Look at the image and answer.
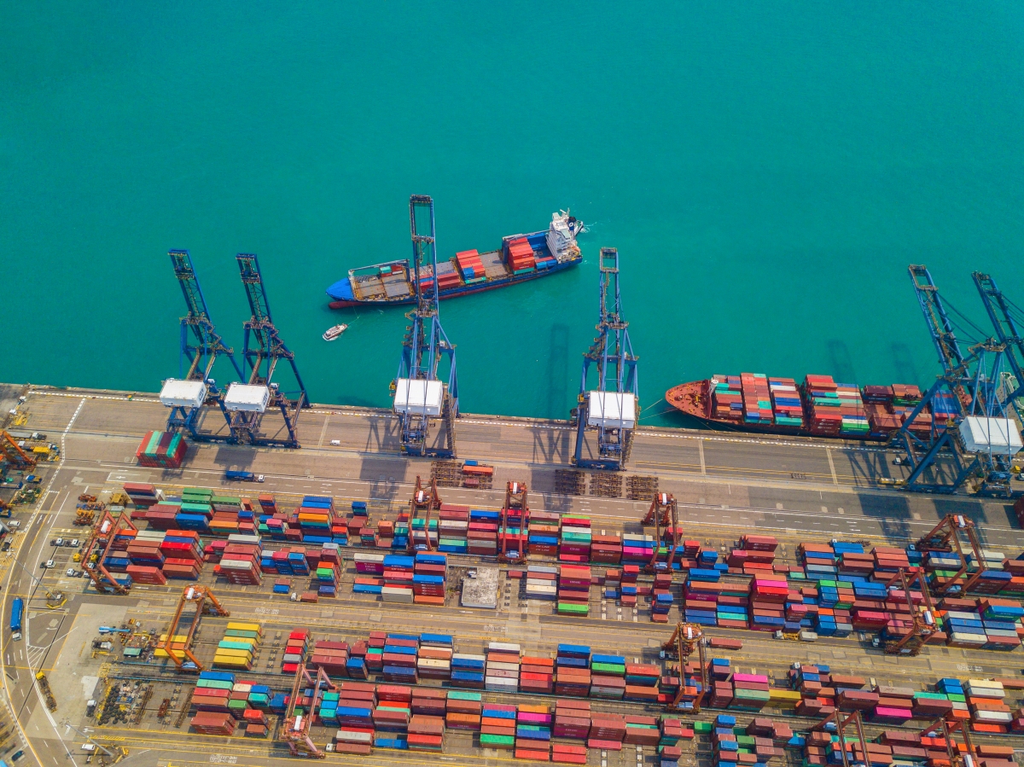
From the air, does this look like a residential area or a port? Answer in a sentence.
The area seen from above is a port.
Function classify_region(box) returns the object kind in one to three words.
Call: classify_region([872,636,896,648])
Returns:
vehicle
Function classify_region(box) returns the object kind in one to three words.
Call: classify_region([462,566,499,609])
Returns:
building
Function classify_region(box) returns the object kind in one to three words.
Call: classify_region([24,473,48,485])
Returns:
vehicle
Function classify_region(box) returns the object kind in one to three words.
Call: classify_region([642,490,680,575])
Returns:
container crane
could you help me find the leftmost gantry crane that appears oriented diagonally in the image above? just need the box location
[0,437,33,469]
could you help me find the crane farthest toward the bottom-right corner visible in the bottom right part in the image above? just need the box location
[903,715,974,767]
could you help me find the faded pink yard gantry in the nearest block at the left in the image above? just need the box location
[280,664,337,759]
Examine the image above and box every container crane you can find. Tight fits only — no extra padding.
[903,715,974,767]
[572,244,638,475]
[892,263,1024,501]
[159,251,243,447]
[162,585,230,674]
[920,511,990,593]
[955,266,1024,495]
[405,474,443,556]
[661,623,707,713]
[78,510,144,594]
[498,480,529,564]
[804,706,868,767]
[389,194,460,463]
[225,256,310,452]
[0,437,33,469]
[882,568,940,655]
[280,664,337,759]
[642,490,680,575]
